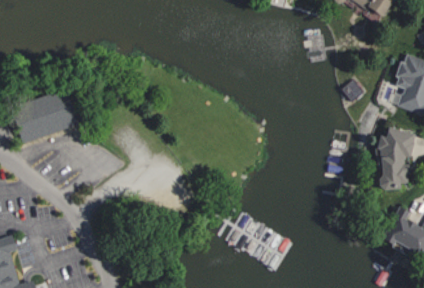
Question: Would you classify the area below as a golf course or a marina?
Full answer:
This looks like a marina.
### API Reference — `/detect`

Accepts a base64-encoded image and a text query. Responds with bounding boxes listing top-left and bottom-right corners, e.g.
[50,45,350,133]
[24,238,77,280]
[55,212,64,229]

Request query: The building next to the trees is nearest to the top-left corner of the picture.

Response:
[19,99,70,140]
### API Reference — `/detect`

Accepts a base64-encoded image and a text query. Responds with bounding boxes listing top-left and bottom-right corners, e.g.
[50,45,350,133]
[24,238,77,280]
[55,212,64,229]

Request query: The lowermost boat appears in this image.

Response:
[376,271,390,288]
